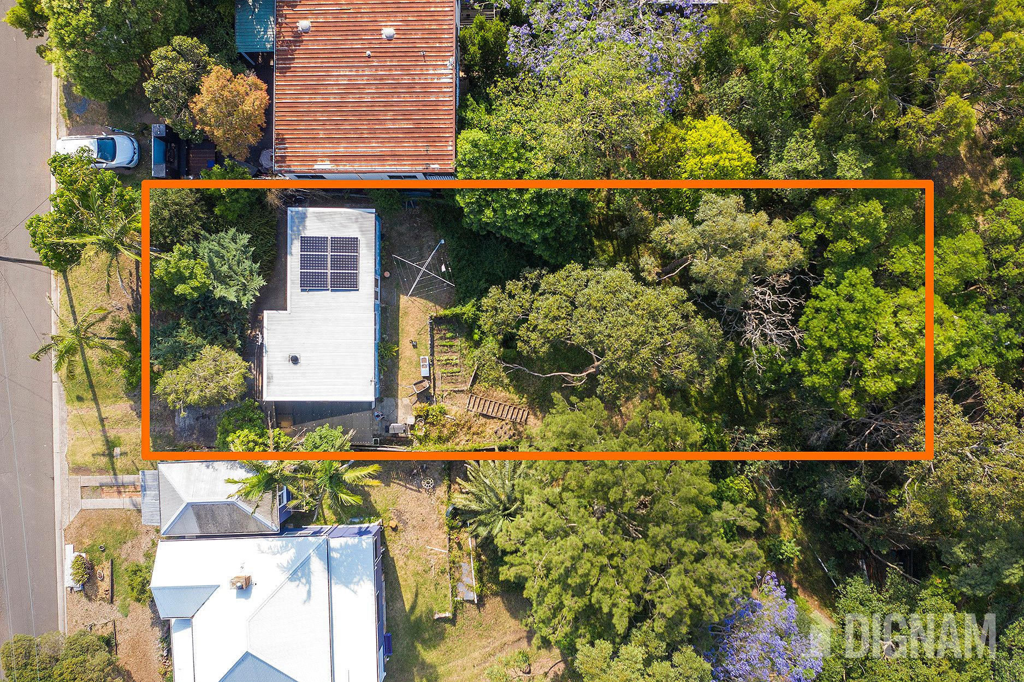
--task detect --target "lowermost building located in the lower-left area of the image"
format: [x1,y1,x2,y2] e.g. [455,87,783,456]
[150,520,389,682]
